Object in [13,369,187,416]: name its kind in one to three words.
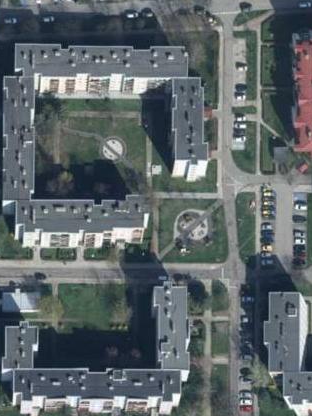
building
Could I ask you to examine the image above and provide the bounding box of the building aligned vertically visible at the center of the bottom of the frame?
[154,281,195,380]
